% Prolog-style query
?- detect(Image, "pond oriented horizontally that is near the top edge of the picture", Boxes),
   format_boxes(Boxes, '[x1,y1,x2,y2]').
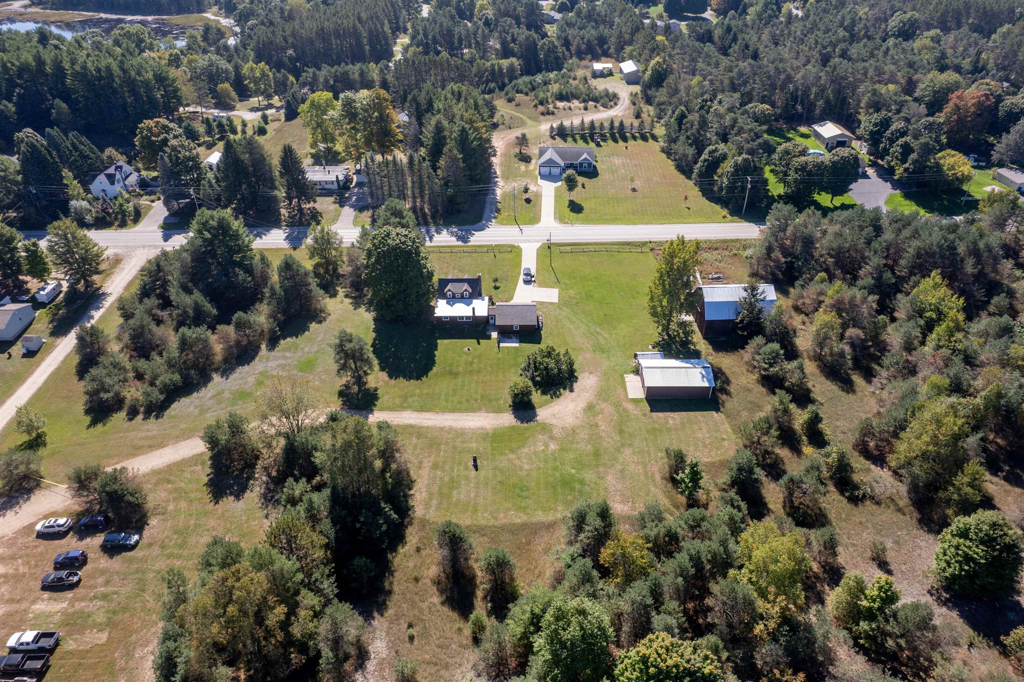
[5,17,219,51]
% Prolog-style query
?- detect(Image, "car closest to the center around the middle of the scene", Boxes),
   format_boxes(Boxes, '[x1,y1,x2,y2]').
[523,268,535,281]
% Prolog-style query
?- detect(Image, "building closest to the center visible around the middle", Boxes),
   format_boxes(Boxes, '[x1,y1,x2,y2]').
[434,267,537,334]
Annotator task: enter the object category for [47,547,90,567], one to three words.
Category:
car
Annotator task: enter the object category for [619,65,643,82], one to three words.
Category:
barn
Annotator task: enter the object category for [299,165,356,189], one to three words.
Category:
house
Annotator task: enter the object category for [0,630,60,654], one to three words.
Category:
truck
